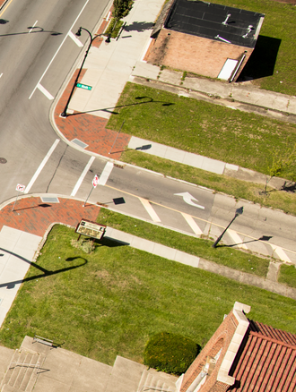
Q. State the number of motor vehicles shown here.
zero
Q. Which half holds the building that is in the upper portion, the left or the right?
right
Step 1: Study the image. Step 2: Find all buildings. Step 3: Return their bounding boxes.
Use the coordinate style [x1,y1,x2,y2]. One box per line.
[175,301,296,392]
[146,2,260,81]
